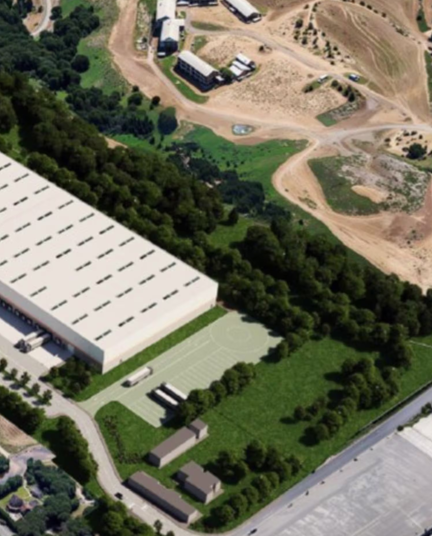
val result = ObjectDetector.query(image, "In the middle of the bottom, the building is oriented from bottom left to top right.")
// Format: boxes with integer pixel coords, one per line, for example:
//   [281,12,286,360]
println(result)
[149,414,213,468]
